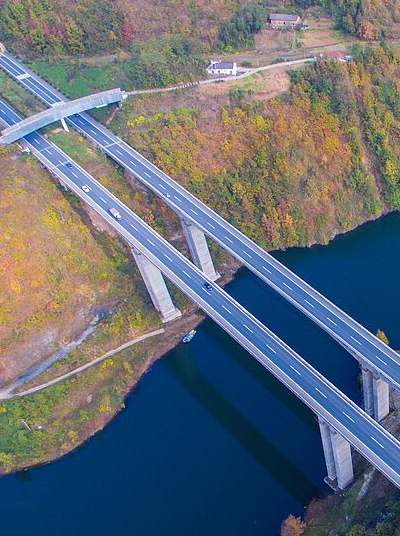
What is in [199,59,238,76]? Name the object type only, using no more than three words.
house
